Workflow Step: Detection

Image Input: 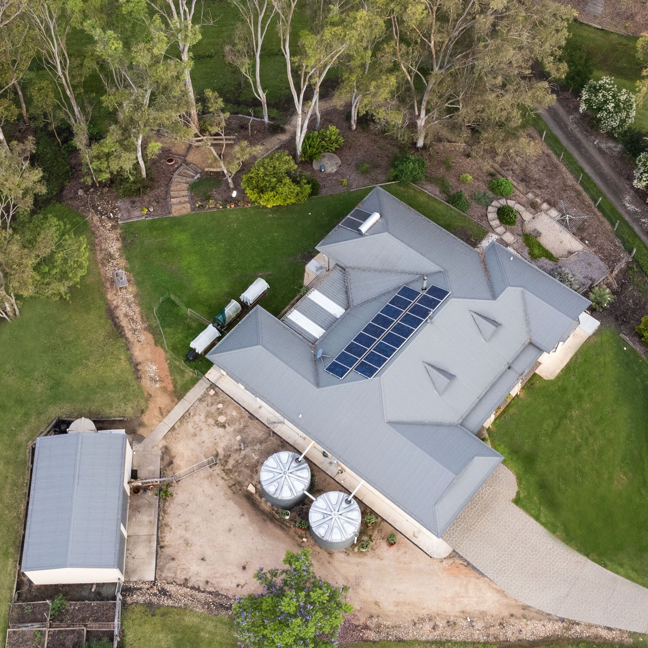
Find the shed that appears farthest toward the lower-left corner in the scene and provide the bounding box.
[20,431,132,582]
